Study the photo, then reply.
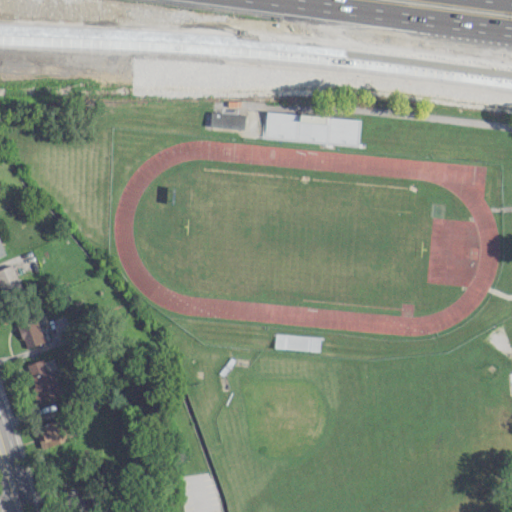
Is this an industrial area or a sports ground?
sports ground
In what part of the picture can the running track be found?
center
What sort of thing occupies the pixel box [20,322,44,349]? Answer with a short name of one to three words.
house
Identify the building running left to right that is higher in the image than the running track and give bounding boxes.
[212,113,246,130]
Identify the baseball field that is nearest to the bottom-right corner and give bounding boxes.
[245,376,327,457]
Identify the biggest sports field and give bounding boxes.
[133,160,476,316]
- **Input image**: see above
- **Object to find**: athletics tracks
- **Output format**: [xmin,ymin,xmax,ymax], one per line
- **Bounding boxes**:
[114,142,498,335]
